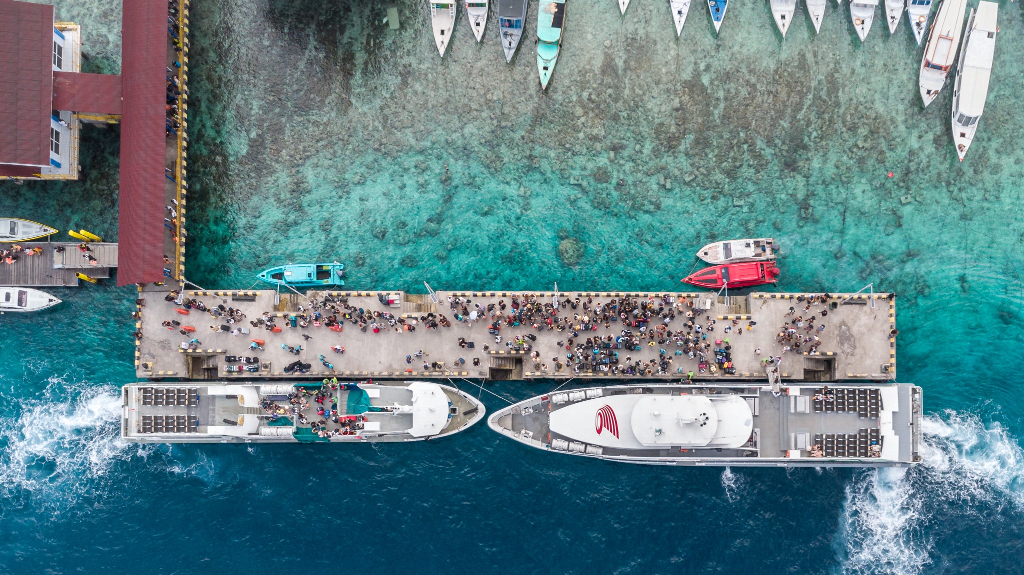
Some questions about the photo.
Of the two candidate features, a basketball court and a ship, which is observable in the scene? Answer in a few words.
ship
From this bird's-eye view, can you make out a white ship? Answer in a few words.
Yes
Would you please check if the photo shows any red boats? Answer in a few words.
Yes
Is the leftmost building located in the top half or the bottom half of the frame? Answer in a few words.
top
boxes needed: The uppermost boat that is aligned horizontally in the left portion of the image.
[0,216,58,243]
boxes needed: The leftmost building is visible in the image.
[0,0,110,189]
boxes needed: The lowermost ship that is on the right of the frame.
[487,383,924,467]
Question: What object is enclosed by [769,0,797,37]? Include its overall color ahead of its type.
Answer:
white boat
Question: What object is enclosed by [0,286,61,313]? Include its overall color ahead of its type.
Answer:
white boat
